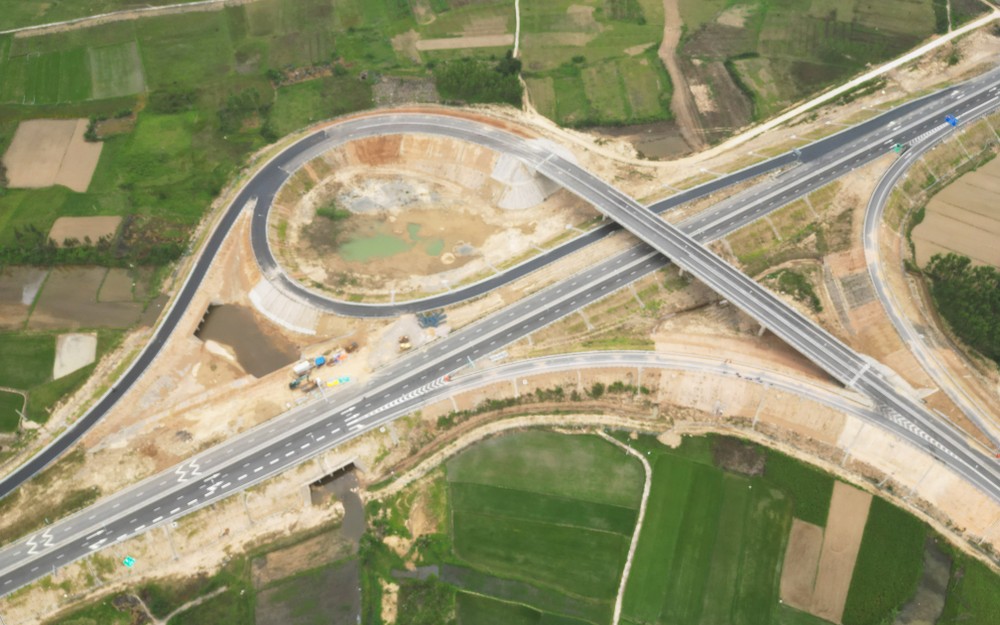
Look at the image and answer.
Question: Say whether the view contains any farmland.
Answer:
Yes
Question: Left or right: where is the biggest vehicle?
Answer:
left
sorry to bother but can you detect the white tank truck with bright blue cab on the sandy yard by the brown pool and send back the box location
[294,354,324,374]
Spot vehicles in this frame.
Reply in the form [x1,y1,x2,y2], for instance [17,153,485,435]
[294,354,324,374]
[287,373,312,391]
[400,335,409,348]
[337,353,349,361]
[347,342,359,353]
